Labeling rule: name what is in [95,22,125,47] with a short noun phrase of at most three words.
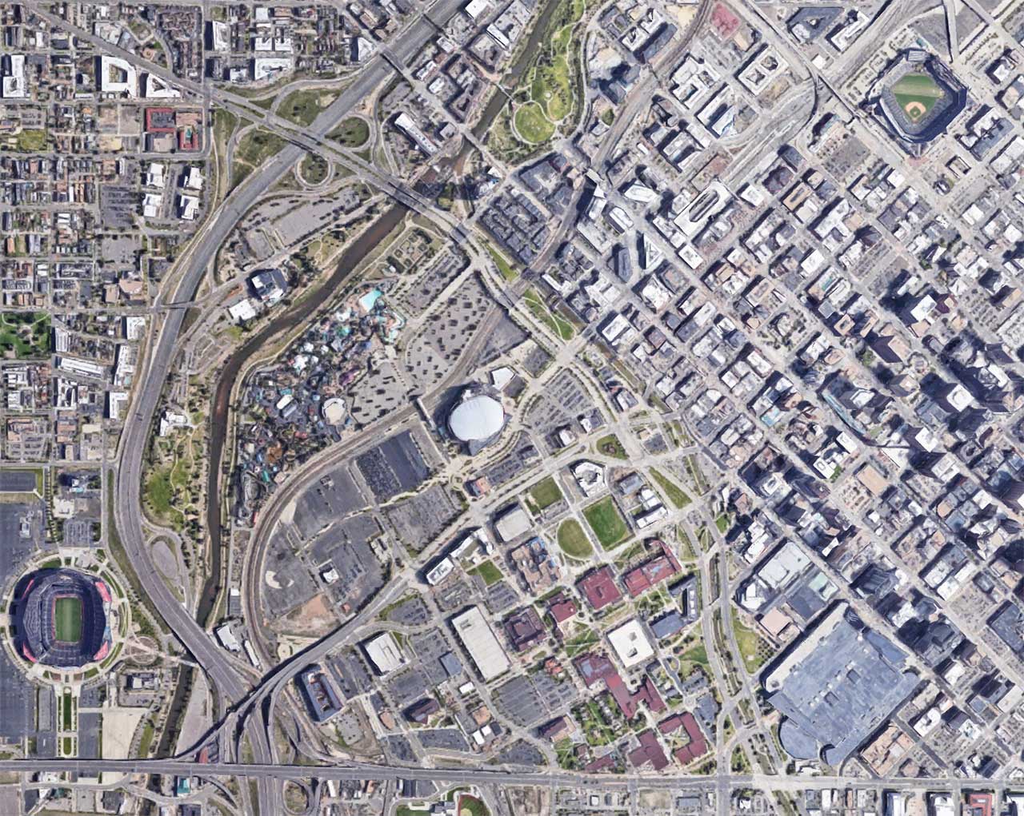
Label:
building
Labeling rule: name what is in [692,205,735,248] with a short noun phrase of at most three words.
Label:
building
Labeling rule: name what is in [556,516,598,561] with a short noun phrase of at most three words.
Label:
sports field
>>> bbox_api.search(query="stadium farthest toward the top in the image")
[865,49,970,158]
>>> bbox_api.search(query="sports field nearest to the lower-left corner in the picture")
[55,596,82,641]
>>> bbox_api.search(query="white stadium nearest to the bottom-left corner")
[439,387,510,457]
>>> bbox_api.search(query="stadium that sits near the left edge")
[11,571,116,670]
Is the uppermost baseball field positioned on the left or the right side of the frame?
right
